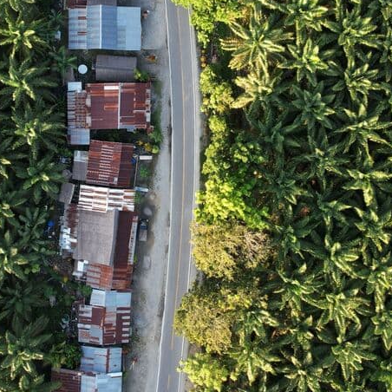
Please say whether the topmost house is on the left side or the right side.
left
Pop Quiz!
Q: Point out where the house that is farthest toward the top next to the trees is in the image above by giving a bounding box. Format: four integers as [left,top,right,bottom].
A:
[68,0,141,51]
